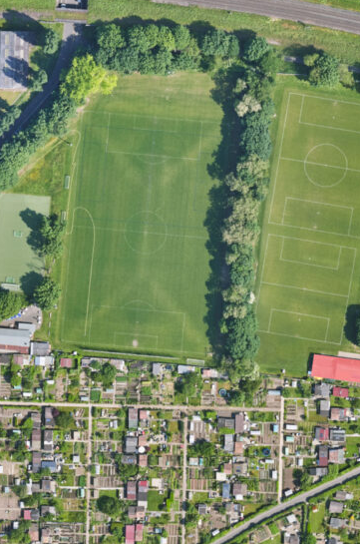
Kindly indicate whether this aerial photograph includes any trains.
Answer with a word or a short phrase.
No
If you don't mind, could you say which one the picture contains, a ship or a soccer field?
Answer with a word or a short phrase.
soccer field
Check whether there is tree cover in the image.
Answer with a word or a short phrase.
Yes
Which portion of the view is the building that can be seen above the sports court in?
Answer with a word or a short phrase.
top left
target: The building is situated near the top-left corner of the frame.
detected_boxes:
[0,30,28,89]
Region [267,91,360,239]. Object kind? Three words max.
soccer field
